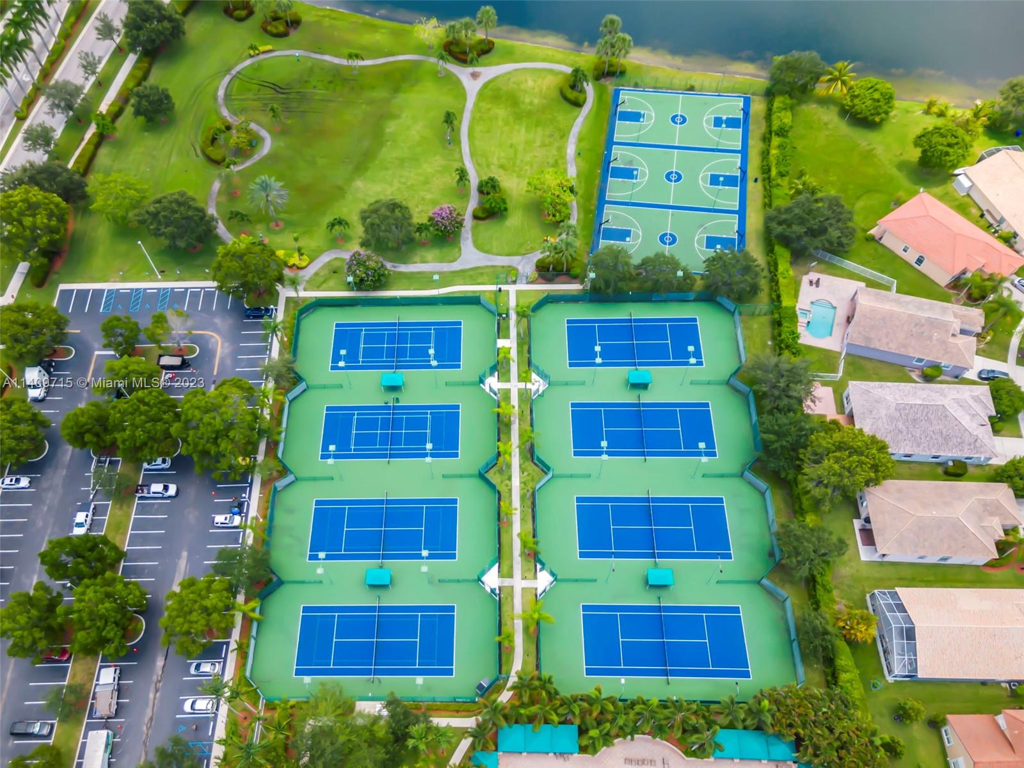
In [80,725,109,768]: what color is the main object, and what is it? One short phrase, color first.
white trailer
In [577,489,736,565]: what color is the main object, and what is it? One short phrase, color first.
blue tennis court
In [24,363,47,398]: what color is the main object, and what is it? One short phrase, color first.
white truck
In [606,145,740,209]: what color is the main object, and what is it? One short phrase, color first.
green basketball court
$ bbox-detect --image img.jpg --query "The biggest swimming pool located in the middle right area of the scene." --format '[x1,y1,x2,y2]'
[806,299,836,338]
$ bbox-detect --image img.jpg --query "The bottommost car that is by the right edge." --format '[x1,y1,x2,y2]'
[977,368,1009,382]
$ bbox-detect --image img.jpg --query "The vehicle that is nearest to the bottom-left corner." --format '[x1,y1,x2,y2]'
[9,720,53,737]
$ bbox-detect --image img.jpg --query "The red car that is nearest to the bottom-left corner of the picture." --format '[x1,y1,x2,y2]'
[39,647,71,662]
